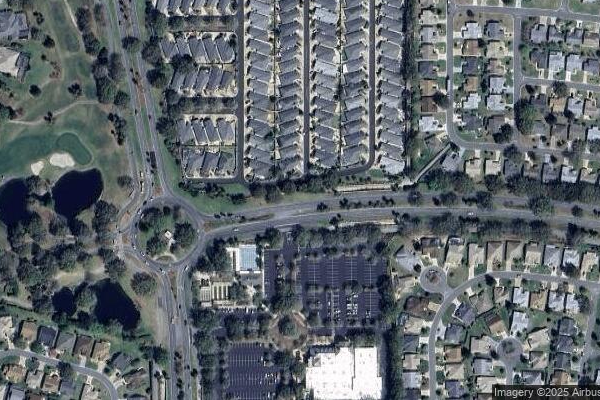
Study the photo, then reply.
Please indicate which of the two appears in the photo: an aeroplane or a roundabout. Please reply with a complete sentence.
The image shows a roundabout.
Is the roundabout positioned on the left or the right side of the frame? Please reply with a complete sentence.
You can find the roundabout on the left side of the picture.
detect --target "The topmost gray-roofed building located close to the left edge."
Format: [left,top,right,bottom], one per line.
[0,9,26,42]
